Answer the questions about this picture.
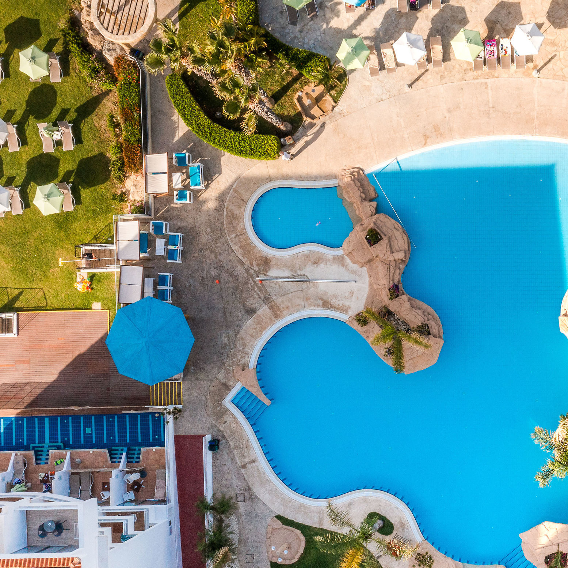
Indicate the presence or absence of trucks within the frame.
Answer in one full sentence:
No, this view has no truck in it.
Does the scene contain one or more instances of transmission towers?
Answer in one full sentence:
No, I can't see a single transmission tower in this photo.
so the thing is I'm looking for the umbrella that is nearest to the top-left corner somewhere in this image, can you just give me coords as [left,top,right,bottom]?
[20,47,52,80]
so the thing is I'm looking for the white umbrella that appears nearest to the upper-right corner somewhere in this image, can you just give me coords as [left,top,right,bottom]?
[511,24,544,57]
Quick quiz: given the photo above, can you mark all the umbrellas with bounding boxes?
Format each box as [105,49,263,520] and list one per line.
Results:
[0,118,10,147]
[35,184,66,216]
[283,0,312,10]
[451,29,482,62]
[105,296,196,385]
[394,34,425,67]
[20,47,52,80]
[0,187,13,215]
[338,38,369,71]
[511,24,544,57]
